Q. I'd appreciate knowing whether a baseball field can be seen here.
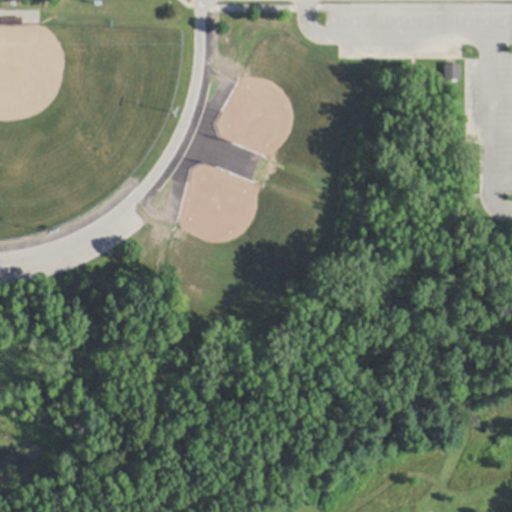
Yes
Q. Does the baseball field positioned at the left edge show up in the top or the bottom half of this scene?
top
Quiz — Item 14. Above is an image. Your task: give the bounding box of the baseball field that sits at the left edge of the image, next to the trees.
[0,24,182,242]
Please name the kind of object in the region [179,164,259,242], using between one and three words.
baseball field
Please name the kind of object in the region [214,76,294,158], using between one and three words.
baseball field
